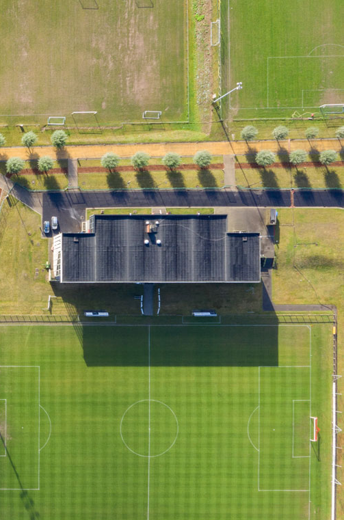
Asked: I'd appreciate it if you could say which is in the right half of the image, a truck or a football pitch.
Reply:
football pitch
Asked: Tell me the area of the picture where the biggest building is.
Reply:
center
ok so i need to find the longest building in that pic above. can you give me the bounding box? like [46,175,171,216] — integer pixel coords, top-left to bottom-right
[52,215,261,285]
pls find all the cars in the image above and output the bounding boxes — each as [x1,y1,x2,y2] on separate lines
[51,216,58,231]
[43,220,50,233]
